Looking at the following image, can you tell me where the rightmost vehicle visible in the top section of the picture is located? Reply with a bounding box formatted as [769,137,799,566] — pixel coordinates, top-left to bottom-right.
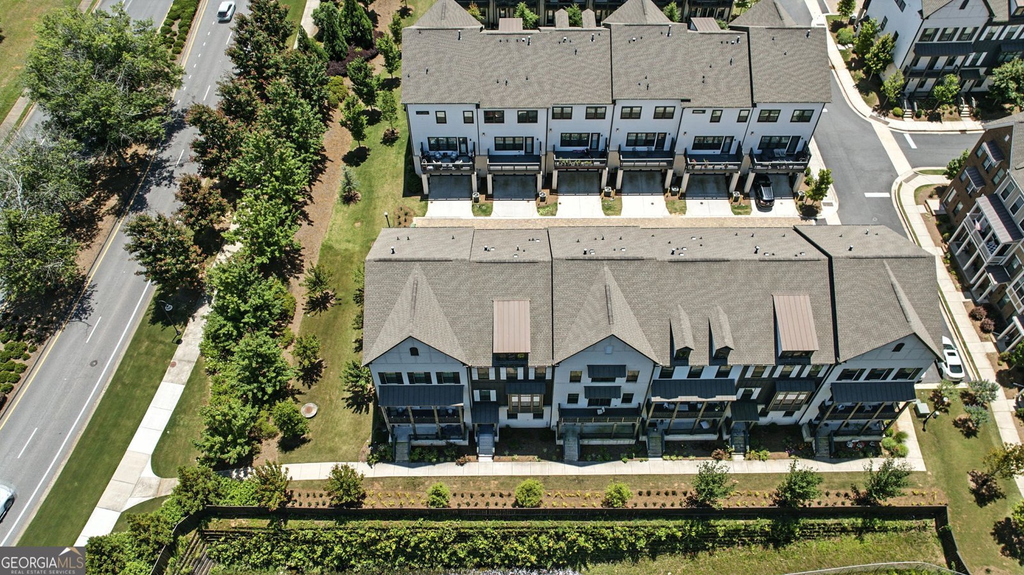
[751,176,775,208]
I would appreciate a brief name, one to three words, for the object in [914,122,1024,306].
house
